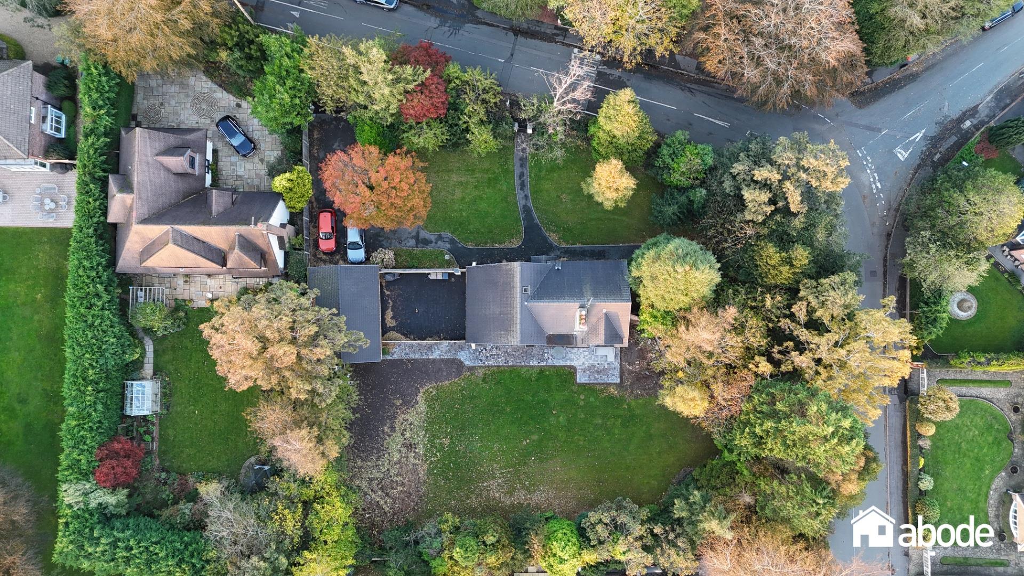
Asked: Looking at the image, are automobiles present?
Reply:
Yes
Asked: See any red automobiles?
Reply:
Yes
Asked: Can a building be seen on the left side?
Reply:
Yes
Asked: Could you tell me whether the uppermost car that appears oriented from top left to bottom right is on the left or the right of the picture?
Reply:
left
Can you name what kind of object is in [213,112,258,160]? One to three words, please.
car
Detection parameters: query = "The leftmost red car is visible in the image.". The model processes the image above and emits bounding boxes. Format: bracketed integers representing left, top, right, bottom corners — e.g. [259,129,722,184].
[314,209,338,251]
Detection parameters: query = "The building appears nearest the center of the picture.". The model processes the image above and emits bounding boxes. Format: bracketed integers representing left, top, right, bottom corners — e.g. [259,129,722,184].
[466,256,632,350]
